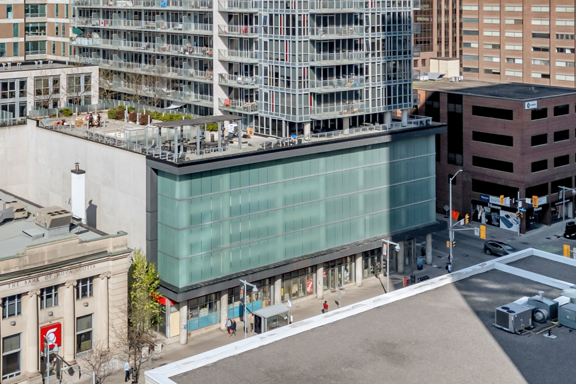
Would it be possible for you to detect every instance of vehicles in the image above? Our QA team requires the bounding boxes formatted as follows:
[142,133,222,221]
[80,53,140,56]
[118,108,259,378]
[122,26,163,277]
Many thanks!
[473,237,511,256]
[564,224,576,239]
